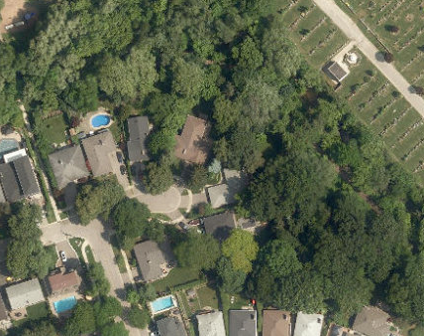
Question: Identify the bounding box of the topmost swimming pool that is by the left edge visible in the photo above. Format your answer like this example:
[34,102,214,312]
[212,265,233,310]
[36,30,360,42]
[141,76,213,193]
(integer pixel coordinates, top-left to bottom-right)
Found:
[0,138,19,156]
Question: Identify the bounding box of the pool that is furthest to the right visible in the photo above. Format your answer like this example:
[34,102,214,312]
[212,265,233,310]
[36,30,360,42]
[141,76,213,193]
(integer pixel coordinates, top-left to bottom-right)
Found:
[150,294,175,314]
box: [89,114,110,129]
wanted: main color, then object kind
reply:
blue swimming pool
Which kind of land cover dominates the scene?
trees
